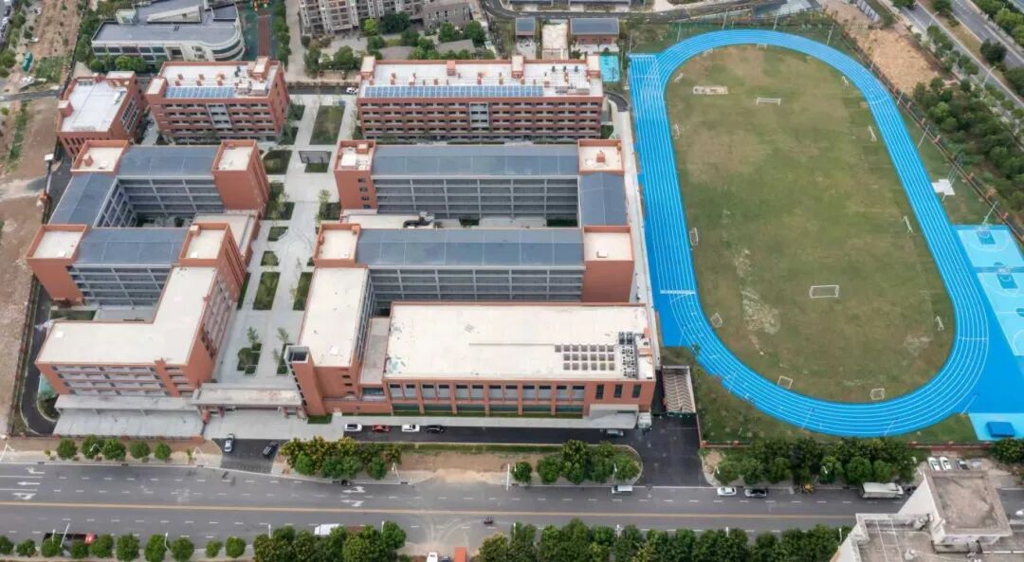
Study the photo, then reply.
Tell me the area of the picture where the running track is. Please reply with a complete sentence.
The running track is in the right part of the image.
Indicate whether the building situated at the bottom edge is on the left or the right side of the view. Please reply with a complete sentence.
The building situated at the bottom edge is on the right side of the image.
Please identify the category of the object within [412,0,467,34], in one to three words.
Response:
building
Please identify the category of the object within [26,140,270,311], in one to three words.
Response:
building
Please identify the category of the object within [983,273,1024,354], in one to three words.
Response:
basketball court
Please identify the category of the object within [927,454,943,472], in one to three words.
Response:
car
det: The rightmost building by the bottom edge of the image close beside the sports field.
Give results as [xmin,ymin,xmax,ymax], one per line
[835,472,1024,562]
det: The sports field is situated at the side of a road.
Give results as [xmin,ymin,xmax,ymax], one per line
[666,43,956,402]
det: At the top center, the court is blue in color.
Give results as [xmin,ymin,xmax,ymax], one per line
[600,52,623,85]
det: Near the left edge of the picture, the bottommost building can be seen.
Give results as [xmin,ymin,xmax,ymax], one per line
[34,263,244,399]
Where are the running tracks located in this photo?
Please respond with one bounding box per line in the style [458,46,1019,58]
[628,29,994,435]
